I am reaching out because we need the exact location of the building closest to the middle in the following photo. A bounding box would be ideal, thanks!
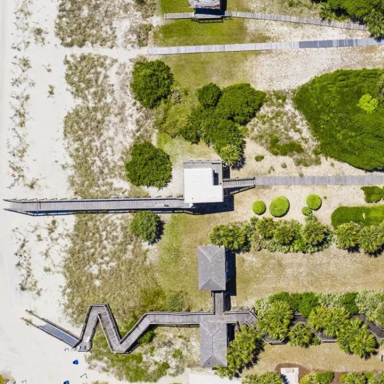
[181,160,232,203]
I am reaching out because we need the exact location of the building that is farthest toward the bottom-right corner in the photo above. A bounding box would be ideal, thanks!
[200,319,231,368]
